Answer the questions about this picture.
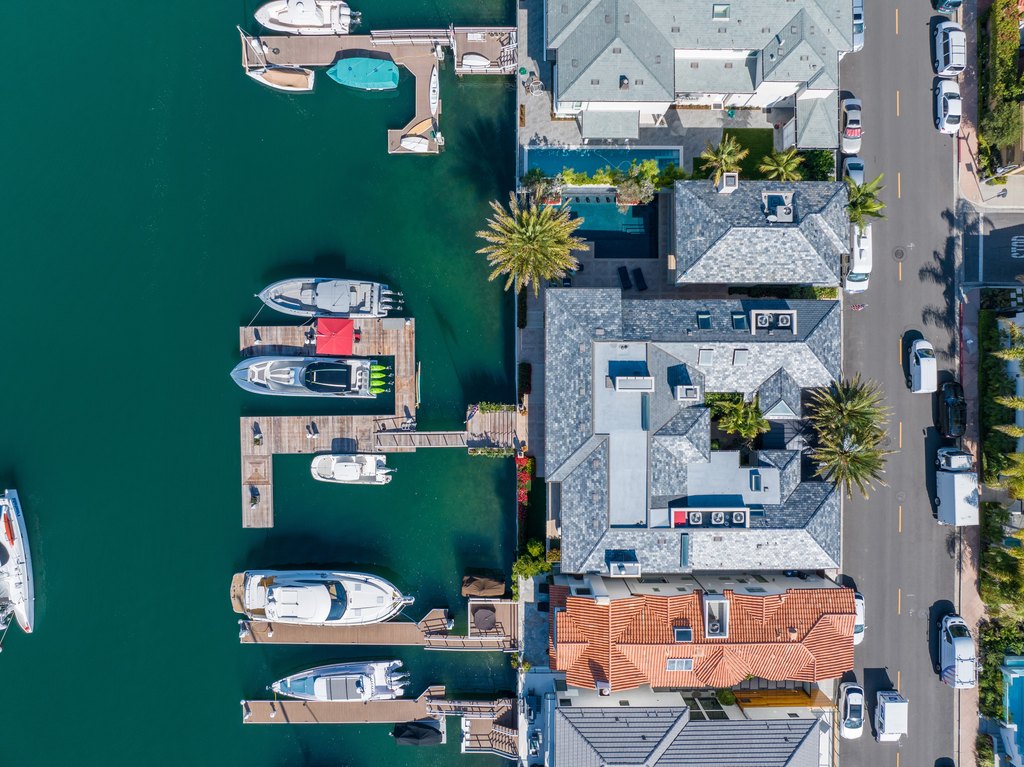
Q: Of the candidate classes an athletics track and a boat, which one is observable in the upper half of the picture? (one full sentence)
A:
The one visible in the upper half of the picture is a boat.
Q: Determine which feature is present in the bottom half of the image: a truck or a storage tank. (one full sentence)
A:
Looking in the bottom half of the image, you will find a truck.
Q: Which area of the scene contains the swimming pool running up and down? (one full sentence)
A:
You can find the swimming pool running up and down in the bottom right area of the picture.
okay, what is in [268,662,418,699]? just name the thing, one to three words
boat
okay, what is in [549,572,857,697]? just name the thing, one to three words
house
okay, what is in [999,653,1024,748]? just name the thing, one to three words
swimming pool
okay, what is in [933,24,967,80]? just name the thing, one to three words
car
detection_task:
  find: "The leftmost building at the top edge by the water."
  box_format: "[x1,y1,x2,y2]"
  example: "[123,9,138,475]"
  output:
[542,0,854,160]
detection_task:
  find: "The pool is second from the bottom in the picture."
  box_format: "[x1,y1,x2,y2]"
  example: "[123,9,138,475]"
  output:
[543,197,660,260]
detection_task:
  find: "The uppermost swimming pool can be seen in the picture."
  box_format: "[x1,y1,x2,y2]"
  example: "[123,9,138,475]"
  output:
[524,146,683,184]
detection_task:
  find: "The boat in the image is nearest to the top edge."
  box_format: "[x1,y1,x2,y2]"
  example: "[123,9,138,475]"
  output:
[253,0,368,34]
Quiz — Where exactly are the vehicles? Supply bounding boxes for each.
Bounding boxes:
[934,446,980,526]
[935,614,977,692]
[933,24,967,80]
[838,99,866,155]
[931,80,964,136]
[874,690,909,743]
[854,591,869,644]
[840,220,874,294]
[905,340,937,393]
[934,382,968,438]
[838,155,868,210]
[849,0,869,53]
[837,680,867,737]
